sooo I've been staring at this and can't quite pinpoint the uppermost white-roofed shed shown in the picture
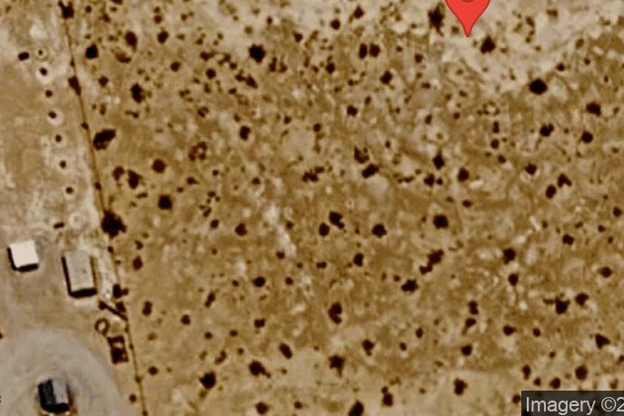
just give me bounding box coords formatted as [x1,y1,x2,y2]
[8,240,39,269]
